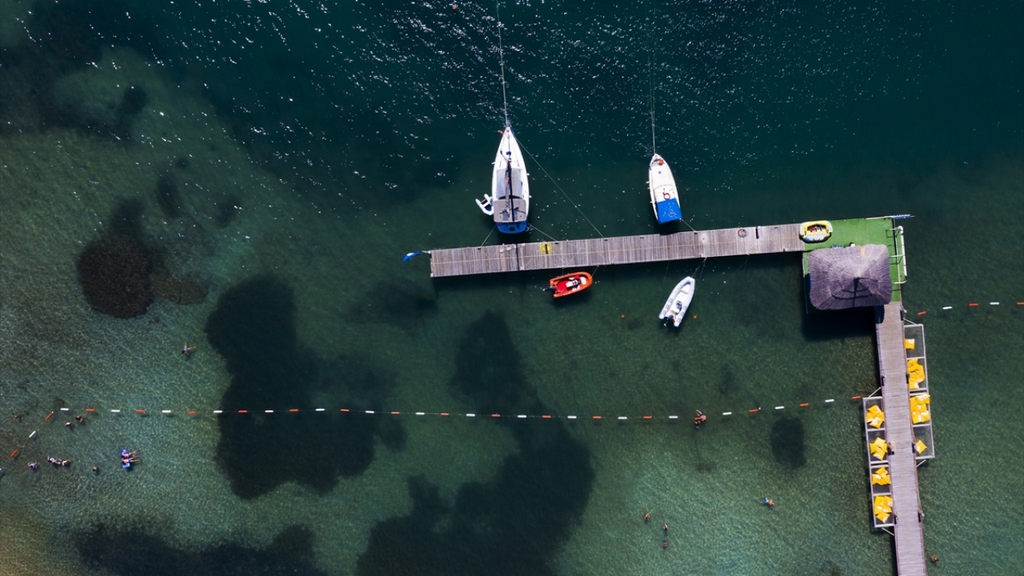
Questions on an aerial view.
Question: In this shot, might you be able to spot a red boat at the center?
Yes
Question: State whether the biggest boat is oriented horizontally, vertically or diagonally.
vertically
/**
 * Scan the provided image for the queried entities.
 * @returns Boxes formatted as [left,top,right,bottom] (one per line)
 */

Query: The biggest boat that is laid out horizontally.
[542,272,594,297]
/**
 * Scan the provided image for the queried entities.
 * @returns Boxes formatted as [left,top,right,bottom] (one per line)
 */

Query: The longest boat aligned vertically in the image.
[490,124,531,234]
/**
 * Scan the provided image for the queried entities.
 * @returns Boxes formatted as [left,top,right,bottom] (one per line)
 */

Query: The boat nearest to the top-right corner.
[646,153,684,225]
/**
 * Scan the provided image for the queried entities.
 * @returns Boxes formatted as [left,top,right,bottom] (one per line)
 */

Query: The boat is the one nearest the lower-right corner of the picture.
[660,277,696,329]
